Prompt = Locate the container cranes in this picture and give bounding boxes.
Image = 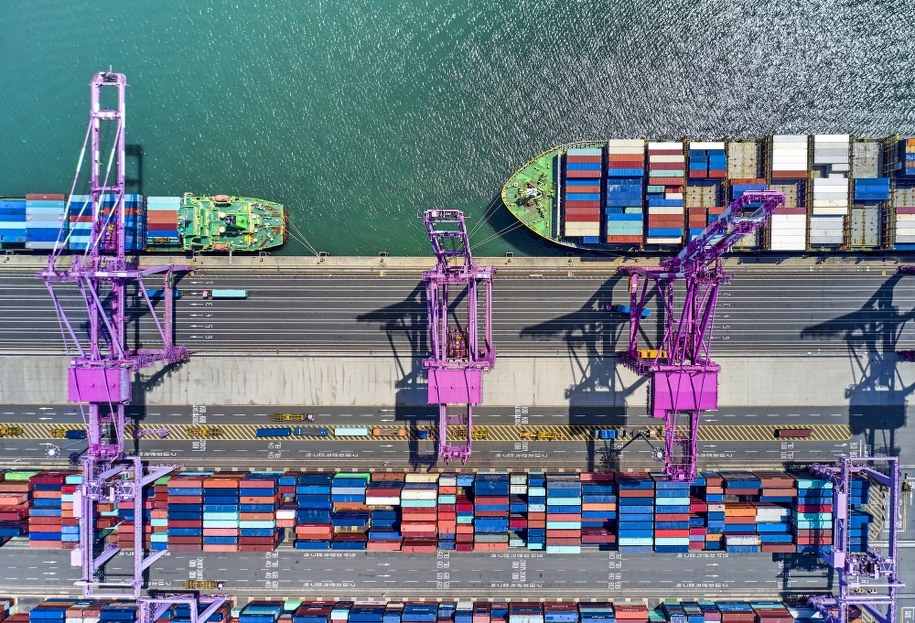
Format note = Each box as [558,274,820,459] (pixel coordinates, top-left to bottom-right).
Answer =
[614,194,786,480]
[130,592,236,623]
[799,592,901,623]
[799,458,901,598]
[72,456,183,597]
[27,59,208,466]
[404,206,505,466]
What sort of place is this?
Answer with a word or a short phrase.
port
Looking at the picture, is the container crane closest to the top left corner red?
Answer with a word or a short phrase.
No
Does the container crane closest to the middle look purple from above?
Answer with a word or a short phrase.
Yes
